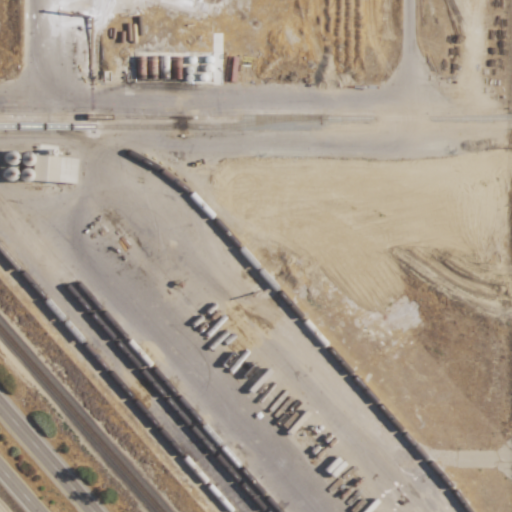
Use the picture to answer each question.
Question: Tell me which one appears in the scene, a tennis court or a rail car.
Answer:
rail car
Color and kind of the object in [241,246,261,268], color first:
white rail car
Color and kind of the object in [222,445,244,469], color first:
white rail car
